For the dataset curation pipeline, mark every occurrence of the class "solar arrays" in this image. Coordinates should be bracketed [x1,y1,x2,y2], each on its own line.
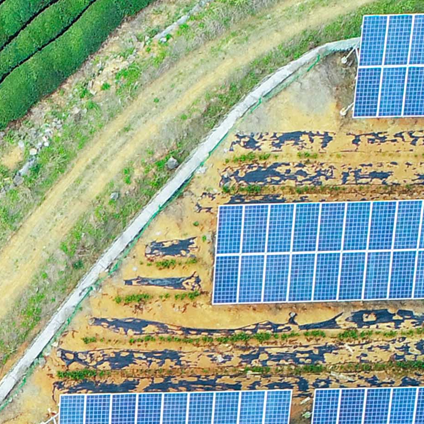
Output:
[210,201,424,304]
[339,15,424,117]
[303,387,424,424]
[56,390,292,424]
